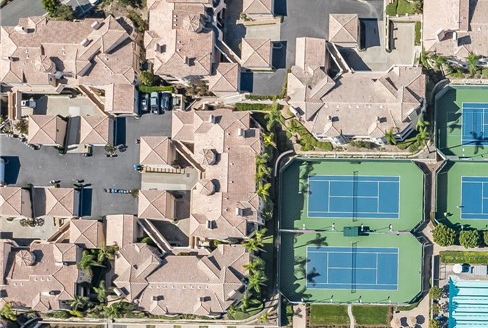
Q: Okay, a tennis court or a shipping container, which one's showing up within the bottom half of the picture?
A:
tennis court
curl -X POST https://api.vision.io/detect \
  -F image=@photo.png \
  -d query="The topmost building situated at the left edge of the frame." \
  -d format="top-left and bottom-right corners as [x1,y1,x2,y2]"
[0,10,147,117]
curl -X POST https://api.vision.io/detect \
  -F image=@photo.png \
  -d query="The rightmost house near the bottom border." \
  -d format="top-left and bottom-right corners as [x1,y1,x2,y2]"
[108,245,257,322]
